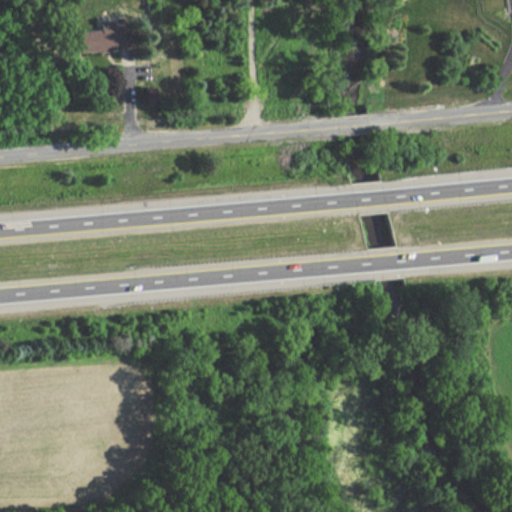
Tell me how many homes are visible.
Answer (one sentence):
The picture shows just 1 home.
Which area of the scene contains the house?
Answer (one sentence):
You can find the house in the top left area of the picture.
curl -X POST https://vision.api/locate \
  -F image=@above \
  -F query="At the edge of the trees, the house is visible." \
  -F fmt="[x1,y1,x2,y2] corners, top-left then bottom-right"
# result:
[84,18,126,54]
